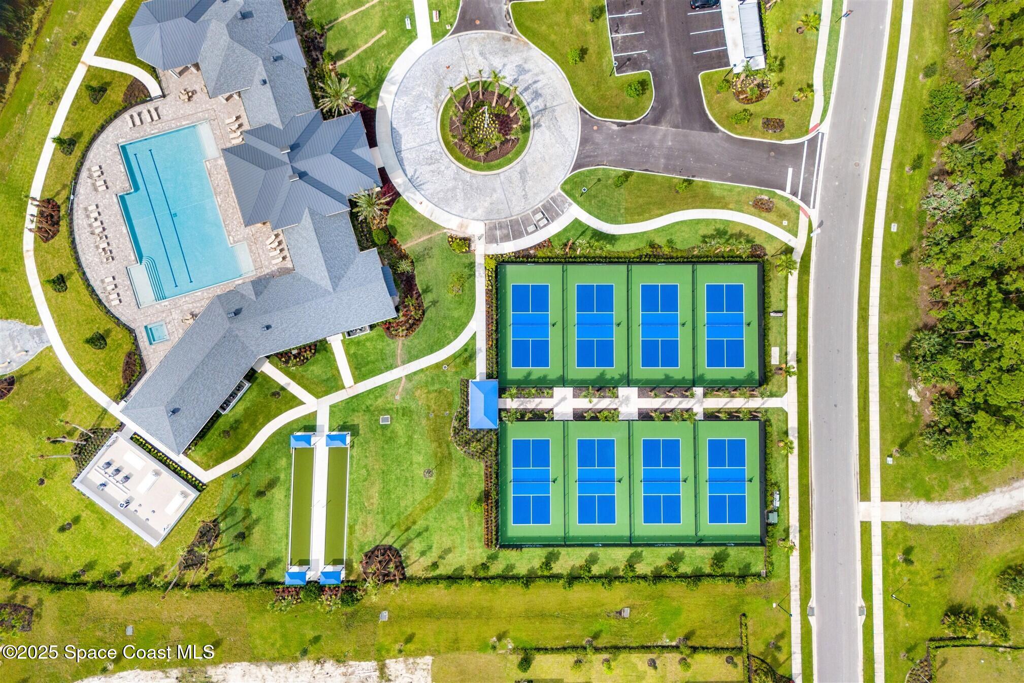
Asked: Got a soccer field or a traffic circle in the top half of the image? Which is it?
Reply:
traffic circle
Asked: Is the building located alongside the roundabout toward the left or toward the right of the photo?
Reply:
left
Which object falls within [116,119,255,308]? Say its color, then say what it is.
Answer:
blue swimming pool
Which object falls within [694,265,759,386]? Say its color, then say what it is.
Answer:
green sports court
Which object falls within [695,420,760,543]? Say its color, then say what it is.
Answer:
green sports court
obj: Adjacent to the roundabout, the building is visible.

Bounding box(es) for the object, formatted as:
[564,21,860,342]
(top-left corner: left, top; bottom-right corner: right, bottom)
[119,0,400,455]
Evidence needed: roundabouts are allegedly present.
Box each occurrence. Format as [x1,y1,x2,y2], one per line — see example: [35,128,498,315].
[394,36,577,217]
